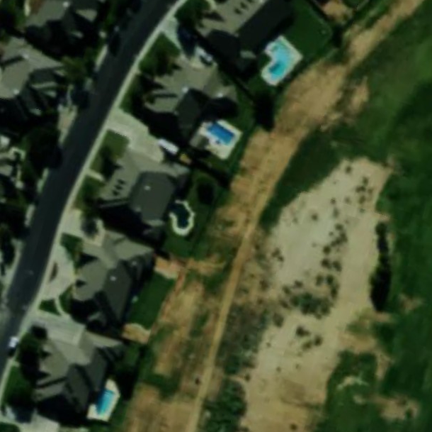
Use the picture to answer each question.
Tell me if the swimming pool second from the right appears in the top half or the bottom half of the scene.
top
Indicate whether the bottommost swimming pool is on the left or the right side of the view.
left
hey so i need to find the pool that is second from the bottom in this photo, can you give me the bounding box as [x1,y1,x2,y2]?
[169,199,195,235]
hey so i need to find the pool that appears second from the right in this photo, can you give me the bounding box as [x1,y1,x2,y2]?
[203,120,243,153]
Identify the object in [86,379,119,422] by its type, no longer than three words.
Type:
swimming pool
